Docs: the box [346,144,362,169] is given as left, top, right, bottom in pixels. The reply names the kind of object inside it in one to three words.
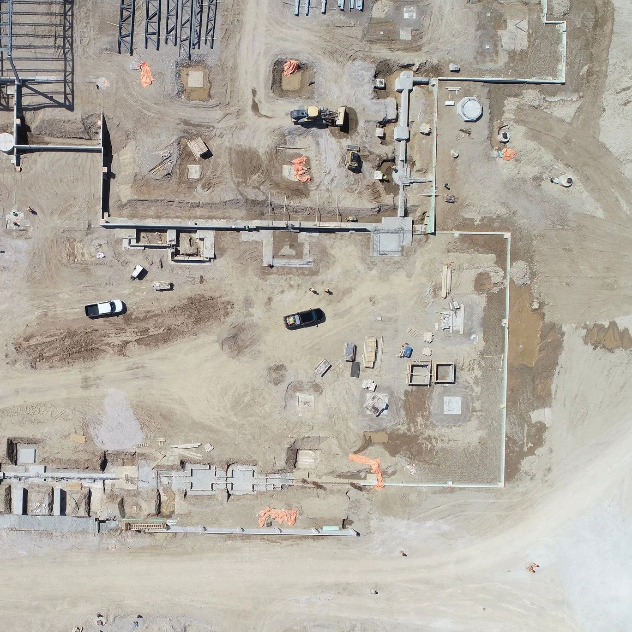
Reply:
work vehicle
